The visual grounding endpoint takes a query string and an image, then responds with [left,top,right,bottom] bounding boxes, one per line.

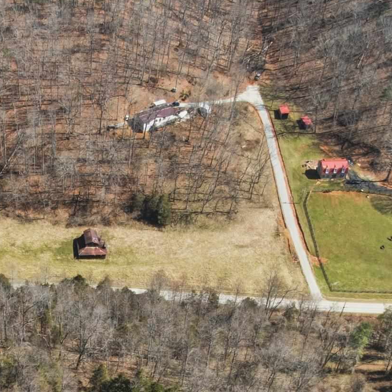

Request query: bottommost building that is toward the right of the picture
[301,155,349,180]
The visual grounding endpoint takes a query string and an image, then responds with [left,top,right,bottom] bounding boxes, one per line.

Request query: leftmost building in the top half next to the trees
[129,99,179,134]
